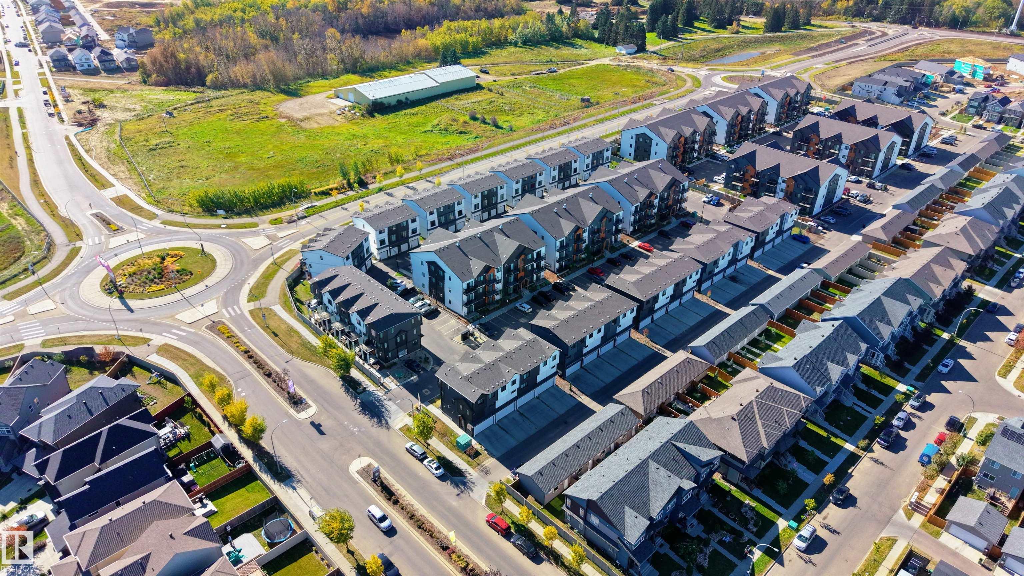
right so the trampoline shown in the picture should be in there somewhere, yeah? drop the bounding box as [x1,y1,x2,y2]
[251,513,278,539]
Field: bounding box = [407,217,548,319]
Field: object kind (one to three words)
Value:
building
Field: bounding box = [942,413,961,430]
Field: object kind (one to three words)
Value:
vehicle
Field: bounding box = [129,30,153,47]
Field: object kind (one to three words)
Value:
house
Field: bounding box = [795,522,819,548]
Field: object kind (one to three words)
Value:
car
